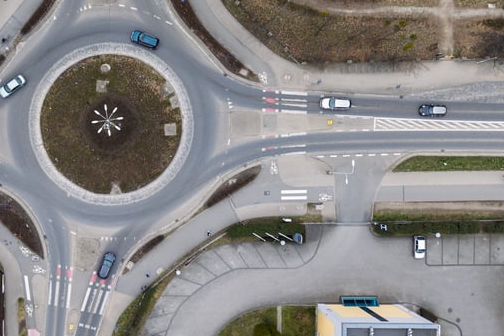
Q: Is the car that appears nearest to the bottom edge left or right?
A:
left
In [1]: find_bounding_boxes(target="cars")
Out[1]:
[0,72,26,98]
[419,102,450,116]
[96,249,117,281]
[129,29,159,48]
[414,236,430,261]
[320,94,354,110]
